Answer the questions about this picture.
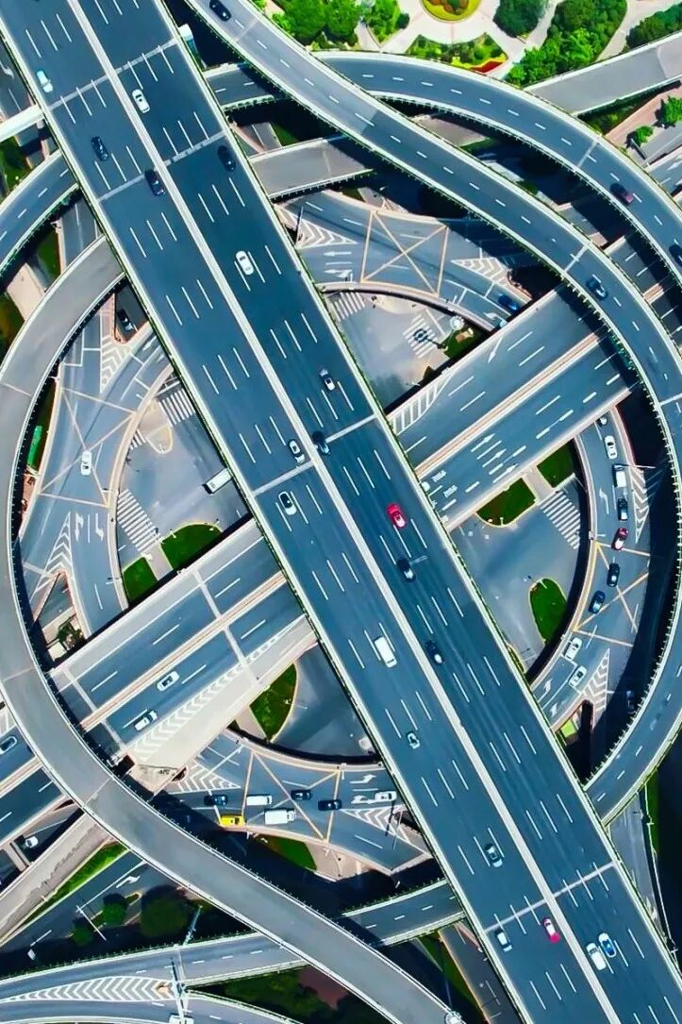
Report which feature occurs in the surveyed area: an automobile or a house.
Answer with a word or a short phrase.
automobile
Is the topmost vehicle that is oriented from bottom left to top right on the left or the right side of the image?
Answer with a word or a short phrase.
left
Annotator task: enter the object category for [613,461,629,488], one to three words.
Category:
vehicle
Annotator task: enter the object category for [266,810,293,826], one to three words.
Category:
vehicle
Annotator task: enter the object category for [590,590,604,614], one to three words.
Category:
car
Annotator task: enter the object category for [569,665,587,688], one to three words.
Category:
car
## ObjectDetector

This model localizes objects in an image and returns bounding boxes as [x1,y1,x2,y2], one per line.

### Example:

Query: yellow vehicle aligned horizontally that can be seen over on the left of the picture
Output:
[221,814,246,826]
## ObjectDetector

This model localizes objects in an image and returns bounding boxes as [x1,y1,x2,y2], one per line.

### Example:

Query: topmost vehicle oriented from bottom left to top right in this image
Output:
[199,468,232,494]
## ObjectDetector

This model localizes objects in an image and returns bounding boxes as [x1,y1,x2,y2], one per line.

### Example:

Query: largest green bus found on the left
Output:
[19,422,43,470]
